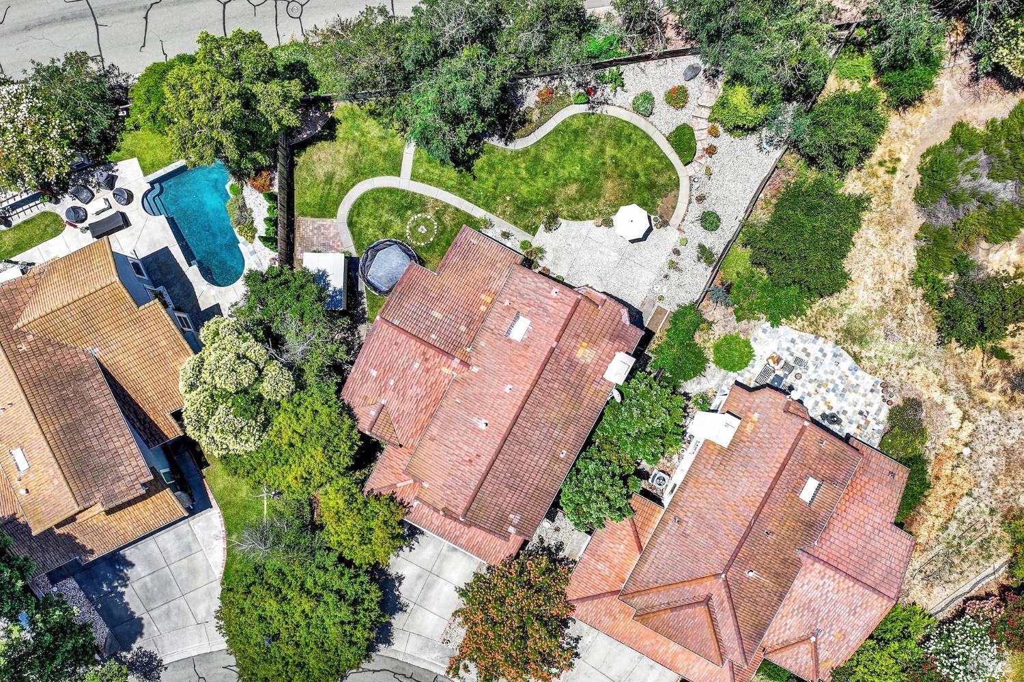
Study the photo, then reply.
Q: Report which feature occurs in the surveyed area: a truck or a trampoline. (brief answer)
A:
trampoline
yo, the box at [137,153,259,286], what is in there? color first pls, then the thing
blue swimming pool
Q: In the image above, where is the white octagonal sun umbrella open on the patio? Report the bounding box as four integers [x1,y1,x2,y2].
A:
[612,205,650,244]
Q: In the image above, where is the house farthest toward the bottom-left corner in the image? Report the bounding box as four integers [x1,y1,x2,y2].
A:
[0,234,205,590]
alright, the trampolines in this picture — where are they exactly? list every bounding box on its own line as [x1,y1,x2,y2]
[354,236,417,297]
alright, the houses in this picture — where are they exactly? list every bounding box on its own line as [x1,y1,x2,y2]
[555,384,918,682]
[0,234,205,590]
[338,224,646,574]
